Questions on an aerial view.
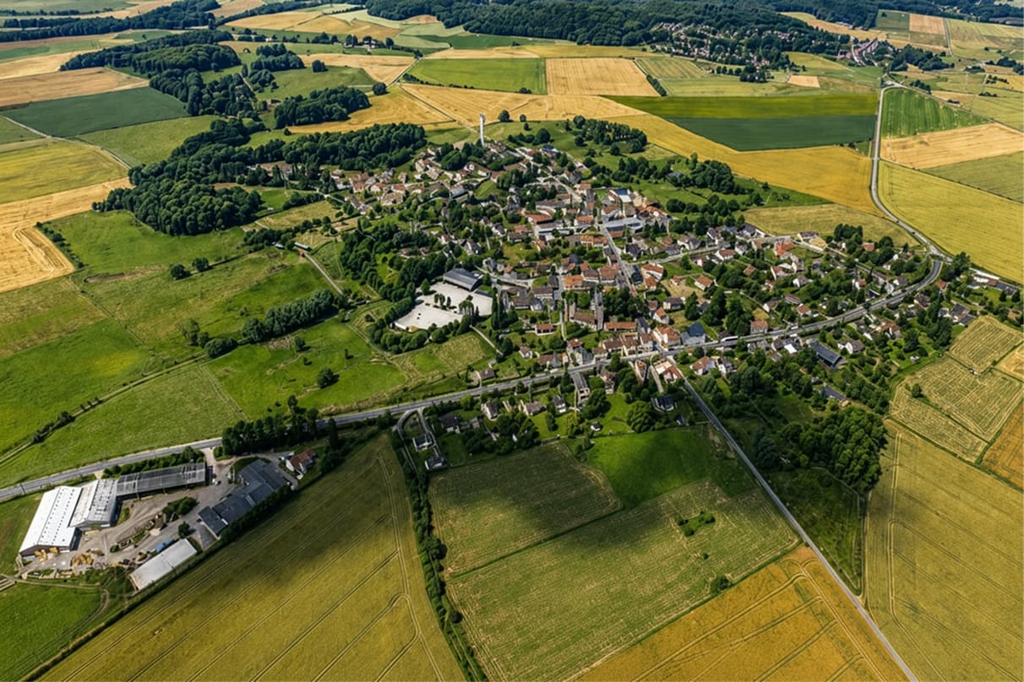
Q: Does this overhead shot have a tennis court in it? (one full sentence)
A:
No, there isn't any tennis court down there.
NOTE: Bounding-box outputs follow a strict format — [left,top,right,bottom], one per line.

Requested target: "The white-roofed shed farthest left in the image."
[8,486,86,563]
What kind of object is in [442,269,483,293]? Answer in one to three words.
building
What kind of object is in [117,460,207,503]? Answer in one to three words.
barn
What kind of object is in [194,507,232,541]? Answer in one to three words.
building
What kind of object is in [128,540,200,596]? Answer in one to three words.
shed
